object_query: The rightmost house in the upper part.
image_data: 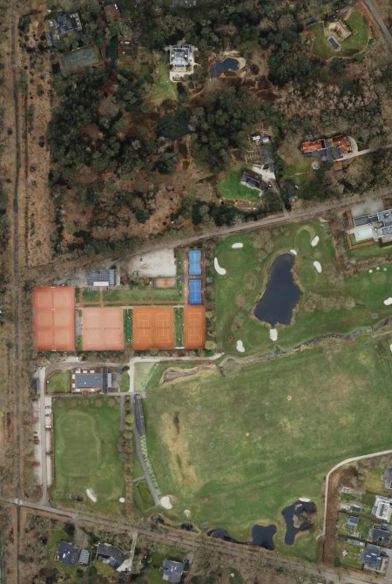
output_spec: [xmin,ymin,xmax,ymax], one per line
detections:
[354,207,392,235]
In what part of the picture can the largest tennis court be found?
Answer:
left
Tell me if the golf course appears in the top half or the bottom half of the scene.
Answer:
bottom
